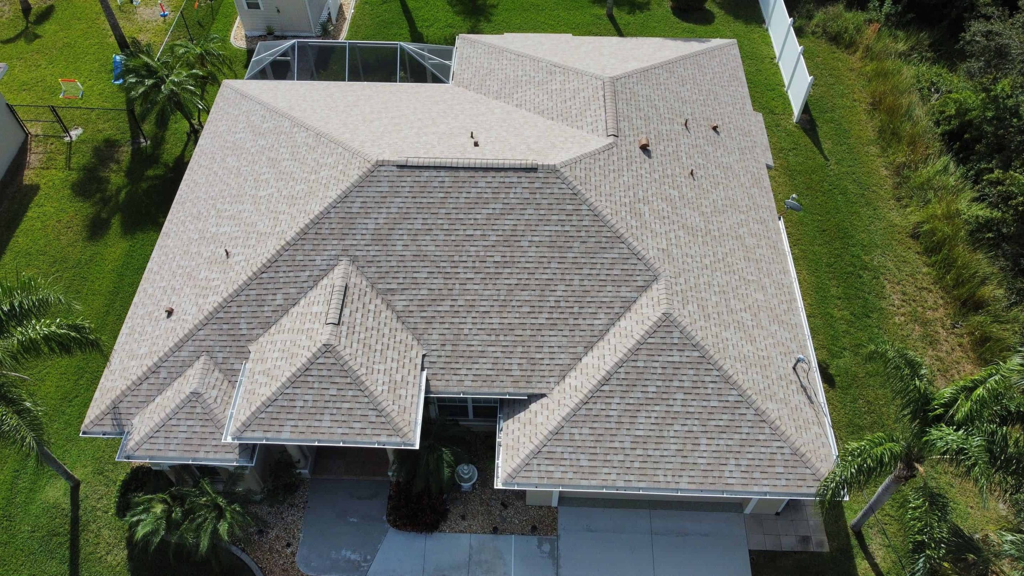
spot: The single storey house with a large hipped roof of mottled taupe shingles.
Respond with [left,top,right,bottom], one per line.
[79,34,851,530]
